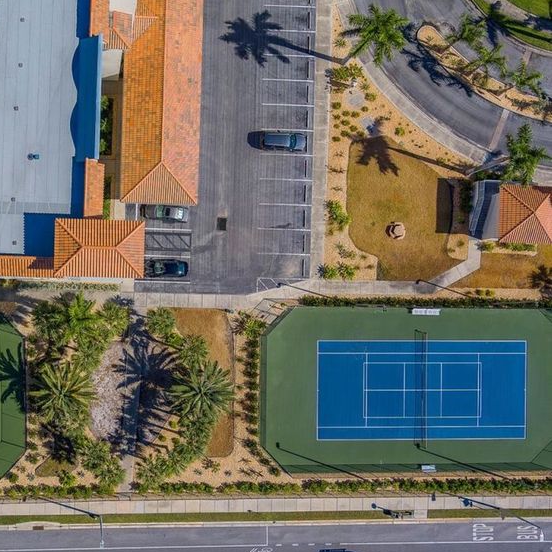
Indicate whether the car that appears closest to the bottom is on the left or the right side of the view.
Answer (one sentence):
You can find the car that appears closest to the bottom on the left side of the picture.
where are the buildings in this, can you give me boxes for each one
[0,0,146,285]
[120,0,204,205]
[482,183,552,245]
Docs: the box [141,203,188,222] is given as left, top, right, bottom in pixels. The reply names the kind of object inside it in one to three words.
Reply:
car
